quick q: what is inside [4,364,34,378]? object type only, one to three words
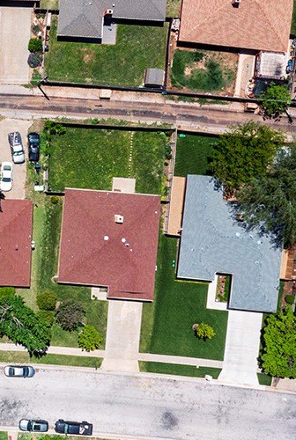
car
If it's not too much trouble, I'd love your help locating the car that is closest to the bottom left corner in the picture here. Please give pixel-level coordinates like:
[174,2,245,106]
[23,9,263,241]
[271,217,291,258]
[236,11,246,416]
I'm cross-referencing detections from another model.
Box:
[19,418,48,433]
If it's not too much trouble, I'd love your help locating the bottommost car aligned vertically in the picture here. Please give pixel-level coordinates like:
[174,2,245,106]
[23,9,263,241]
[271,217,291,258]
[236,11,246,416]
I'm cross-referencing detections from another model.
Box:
[0,161,13,191]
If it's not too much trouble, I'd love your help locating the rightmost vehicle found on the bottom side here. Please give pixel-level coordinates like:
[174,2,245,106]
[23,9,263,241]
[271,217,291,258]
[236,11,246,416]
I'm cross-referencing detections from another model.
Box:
[54,419,94,436]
